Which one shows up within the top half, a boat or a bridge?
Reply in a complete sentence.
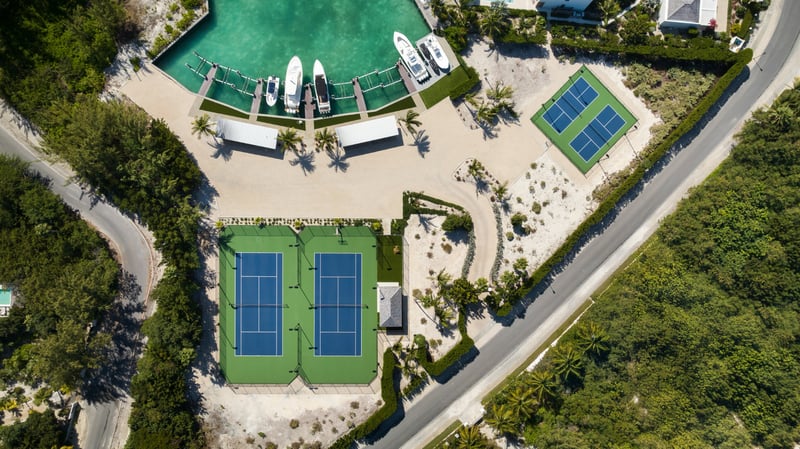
Visible within the top half is a boat.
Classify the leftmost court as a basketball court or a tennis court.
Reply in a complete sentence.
Looking closely, the leftmost court is a tennis court.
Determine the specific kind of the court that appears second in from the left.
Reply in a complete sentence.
From above, the court that appears second in from the left can be identified as a tennis court.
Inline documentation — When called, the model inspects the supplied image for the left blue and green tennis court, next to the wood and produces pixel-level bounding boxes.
[219,226,298,384]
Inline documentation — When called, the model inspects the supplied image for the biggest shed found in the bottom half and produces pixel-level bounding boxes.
[377,280,402,326]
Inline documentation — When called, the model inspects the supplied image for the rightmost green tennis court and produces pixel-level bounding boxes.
[298,226,377,384]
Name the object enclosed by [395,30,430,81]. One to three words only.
boat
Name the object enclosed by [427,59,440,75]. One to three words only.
boat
